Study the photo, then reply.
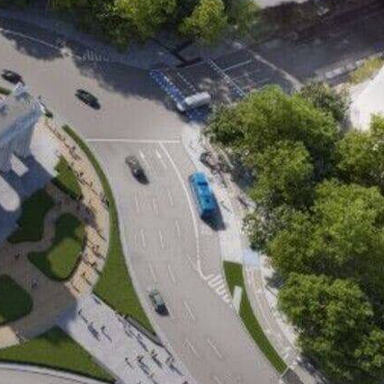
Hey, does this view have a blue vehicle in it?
Yes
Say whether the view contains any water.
No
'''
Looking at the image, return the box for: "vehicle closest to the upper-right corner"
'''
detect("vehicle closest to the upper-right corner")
[180,88,215,112]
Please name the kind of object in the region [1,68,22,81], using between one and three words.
vehicle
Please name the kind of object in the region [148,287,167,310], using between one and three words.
car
